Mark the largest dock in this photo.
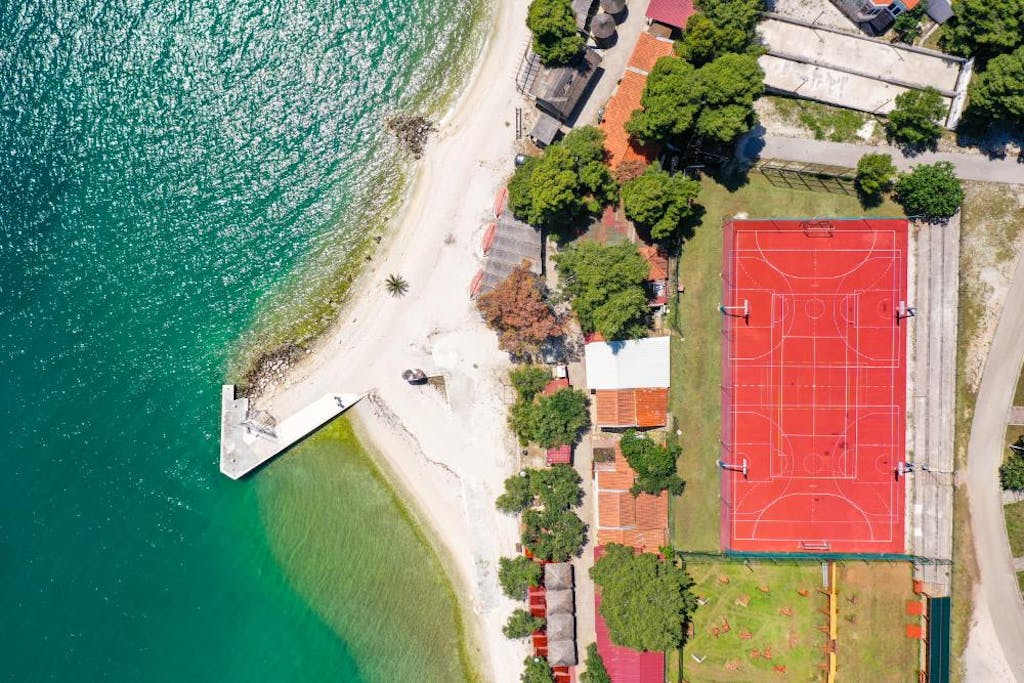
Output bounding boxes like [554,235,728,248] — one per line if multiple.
[220,385,363,479]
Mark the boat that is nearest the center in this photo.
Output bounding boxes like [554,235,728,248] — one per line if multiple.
[470,269,483,297]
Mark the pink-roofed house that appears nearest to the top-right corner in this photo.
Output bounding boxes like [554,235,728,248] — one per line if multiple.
[644,0,692,37]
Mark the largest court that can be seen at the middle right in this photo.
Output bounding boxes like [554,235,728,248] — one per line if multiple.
[721,219,908,552]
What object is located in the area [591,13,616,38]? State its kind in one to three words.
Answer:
umbrella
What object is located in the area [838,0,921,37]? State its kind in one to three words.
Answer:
house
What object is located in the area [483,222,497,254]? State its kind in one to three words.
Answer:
boat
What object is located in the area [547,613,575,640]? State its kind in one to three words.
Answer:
building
